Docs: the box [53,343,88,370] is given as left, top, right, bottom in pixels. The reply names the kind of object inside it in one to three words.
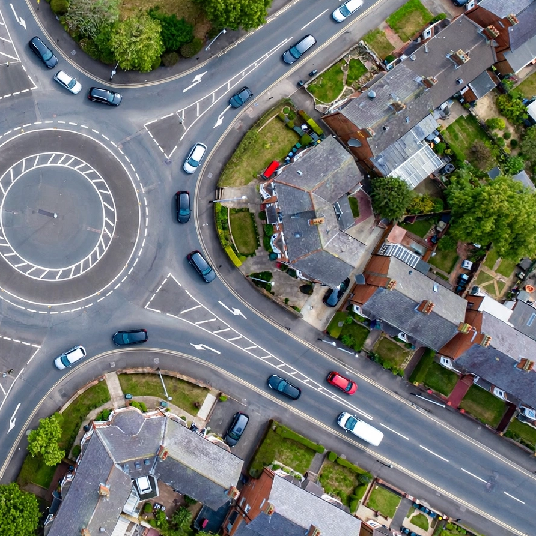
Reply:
car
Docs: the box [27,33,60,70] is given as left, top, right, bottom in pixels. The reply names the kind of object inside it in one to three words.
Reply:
car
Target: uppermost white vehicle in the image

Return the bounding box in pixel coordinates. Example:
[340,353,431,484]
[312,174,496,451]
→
[329,0,365,23]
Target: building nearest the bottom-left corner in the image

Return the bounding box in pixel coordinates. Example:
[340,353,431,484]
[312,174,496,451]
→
[42,401,242,536]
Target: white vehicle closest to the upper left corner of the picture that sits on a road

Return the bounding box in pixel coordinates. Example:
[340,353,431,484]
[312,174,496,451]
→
[51,66,83,97]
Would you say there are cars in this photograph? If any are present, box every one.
[51,66,83,97]
[86,83,124,109]
[181,141,204,176]
[114,328,148,347]
[265,372,304,402]
[329,0,365,23]
[322,368,357,395]
[27,33,60,70]
[175,189,193,223]
[221,79,257,113]
[53,343,88,370]
[279,33,318,65]
[321,280,350,310]
[224,410,248,446]
[186,248,215,285]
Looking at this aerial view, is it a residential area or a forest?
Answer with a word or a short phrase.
residential area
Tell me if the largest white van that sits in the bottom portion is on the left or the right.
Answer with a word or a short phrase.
right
